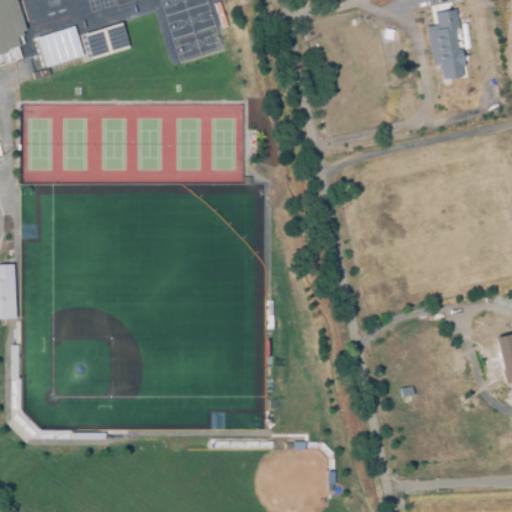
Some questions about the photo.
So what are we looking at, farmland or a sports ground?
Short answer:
sports ground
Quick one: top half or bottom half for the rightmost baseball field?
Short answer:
bottom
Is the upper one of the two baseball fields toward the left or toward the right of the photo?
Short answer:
left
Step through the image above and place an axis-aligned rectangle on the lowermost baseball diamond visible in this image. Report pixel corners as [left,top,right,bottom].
[256,448,329,512]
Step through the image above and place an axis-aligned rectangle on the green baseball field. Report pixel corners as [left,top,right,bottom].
[22,185,266,430]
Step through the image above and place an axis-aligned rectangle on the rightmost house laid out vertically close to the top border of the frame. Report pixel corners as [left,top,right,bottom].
[429,2,468,85]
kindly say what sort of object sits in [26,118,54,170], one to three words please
tennis court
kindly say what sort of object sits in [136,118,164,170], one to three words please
tennis court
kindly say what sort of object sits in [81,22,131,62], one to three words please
building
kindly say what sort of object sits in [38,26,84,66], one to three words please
building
